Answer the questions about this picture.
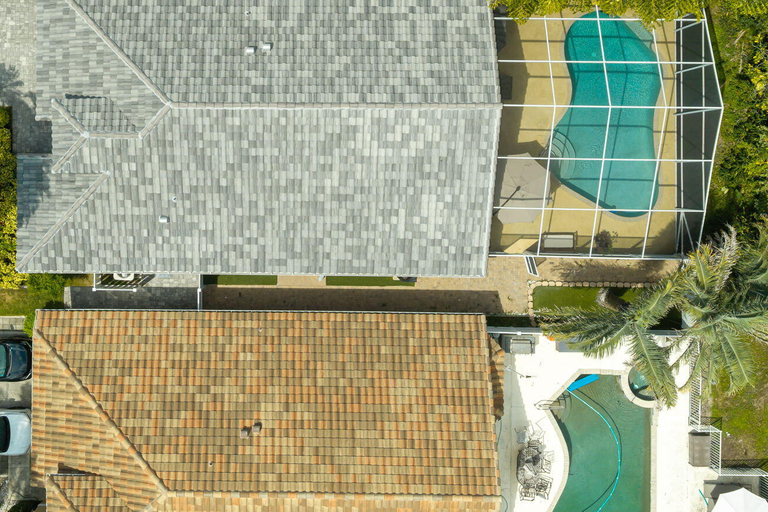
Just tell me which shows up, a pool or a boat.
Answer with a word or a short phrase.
pool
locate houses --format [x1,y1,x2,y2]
[15,0,503,277]
[28,308,506,512]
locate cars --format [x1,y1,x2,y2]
[0,407,29,452]
[0,335,29,381]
